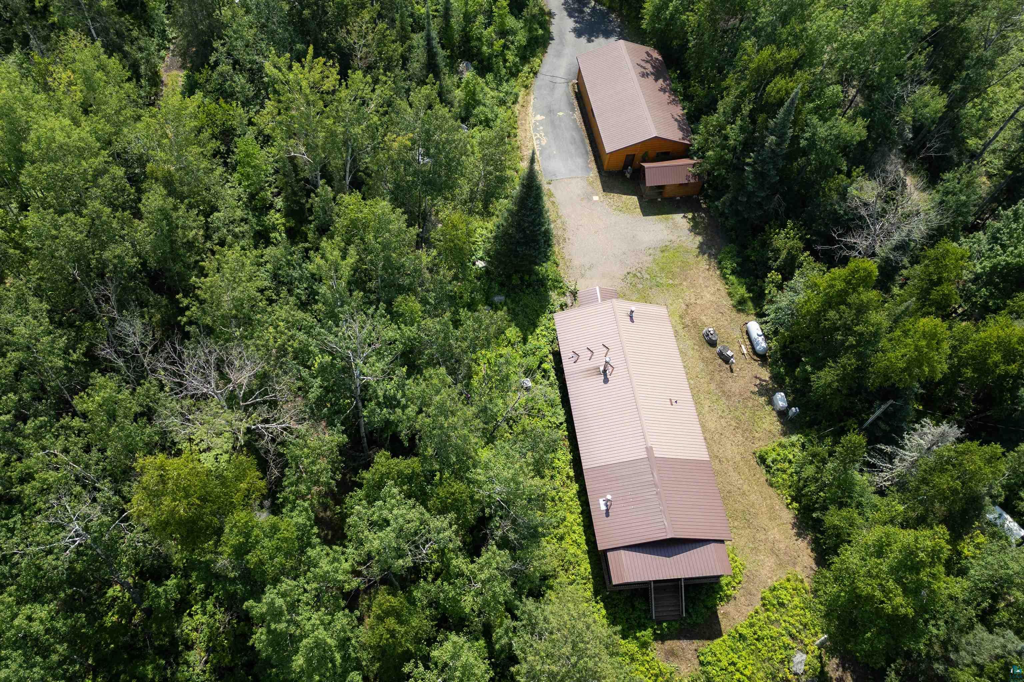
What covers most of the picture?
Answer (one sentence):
What you mostly see from above here is trees.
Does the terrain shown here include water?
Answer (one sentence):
No, no water is visible.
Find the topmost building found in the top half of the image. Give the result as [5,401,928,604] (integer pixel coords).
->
[579,40,693,171]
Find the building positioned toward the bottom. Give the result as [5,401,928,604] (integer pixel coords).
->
[555,285,732,628]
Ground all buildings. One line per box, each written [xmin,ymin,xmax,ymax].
[579,40,693,171]
[555,285,732,628]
